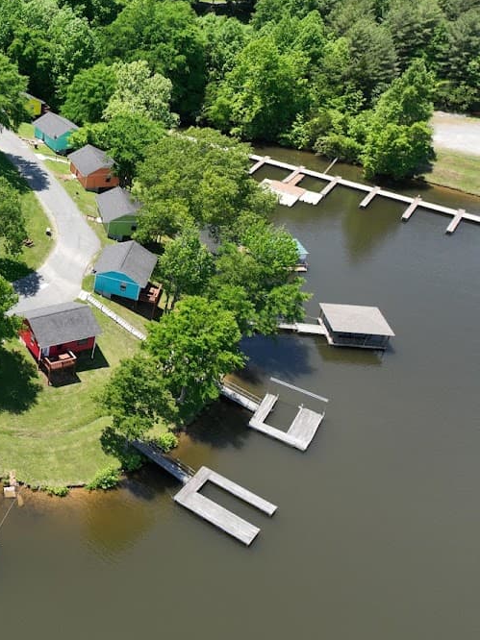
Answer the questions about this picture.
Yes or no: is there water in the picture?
Yes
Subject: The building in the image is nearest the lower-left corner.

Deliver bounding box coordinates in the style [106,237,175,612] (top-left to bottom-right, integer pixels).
[16,299,103,380]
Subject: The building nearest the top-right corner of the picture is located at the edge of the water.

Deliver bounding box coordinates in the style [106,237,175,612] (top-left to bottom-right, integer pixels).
[283,239,309,276]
